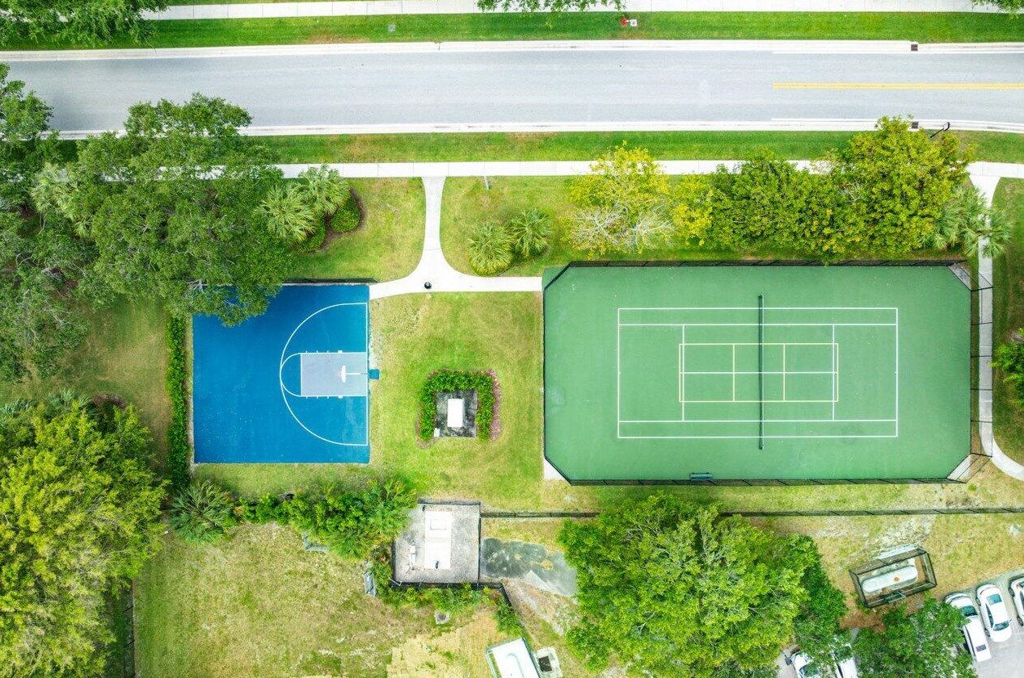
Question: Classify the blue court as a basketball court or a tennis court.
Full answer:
Specifically, the blue court is a basketball court.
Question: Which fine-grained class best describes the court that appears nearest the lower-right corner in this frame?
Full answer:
It looks like the court that appears nearest the lower-right corner is a tennis court.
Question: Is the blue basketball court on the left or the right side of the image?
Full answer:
You can find the blue basketball court on the left side of the picture.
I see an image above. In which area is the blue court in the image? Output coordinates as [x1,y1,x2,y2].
[193,285,369,463]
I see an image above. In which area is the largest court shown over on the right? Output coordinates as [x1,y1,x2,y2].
[543,265,971,481]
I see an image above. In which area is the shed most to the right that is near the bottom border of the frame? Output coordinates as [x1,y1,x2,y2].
[487,638,539,678]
